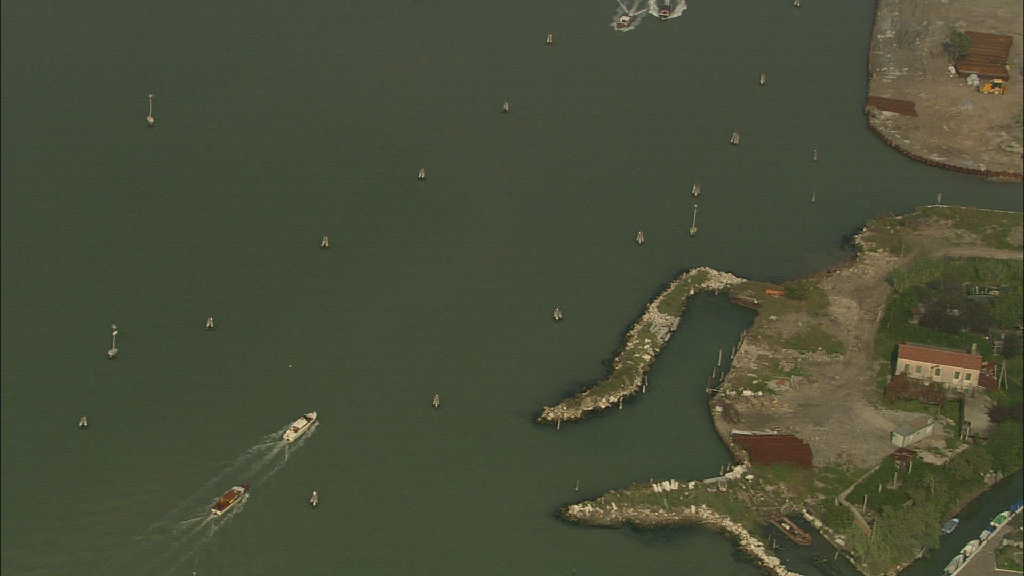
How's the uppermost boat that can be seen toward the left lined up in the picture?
diagonally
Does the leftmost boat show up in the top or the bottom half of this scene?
bottom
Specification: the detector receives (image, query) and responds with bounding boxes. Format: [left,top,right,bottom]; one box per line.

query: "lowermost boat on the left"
[210,484,247,516]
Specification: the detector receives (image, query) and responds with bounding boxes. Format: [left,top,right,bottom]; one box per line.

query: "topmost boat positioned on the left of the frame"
[281,411,317,443]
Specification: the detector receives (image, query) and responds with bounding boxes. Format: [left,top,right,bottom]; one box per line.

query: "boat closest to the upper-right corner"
[659,2,671,21]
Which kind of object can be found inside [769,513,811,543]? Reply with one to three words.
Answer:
ship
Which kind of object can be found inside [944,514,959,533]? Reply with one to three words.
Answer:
boat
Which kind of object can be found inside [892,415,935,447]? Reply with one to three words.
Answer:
building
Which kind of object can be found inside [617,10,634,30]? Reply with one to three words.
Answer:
boat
